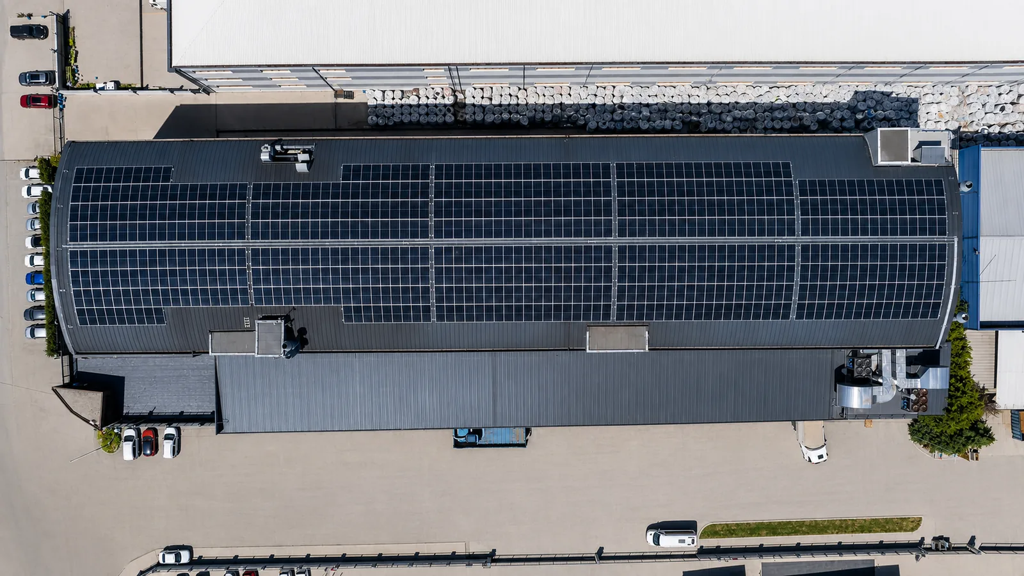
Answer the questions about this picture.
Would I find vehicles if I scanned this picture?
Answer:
Yes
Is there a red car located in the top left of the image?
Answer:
Yes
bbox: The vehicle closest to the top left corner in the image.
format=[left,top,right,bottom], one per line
[10,23,50,41]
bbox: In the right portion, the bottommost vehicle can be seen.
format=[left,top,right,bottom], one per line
[646,531,698,550]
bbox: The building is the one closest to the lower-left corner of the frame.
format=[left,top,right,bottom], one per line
[51,384,116,429]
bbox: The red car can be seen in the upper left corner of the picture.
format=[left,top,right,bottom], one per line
[22,93,56,109]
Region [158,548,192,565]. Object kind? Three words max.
car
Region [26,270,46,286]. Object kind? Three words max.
car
